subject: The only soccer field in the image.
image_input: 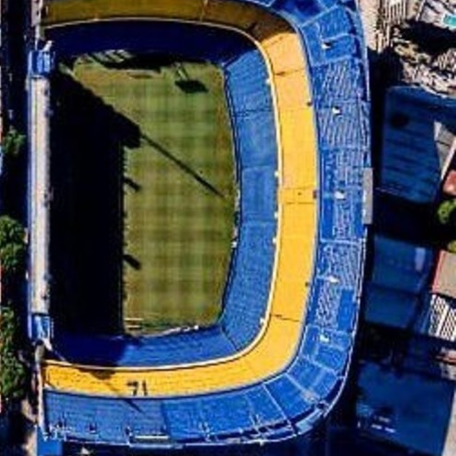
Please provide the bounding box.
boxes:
[51,51,236,334]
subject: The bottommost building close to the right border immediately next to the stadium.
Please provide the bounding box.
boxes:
[351,357,455,456]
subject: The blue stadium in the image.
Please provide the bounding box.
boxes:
[26,0,372,448]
